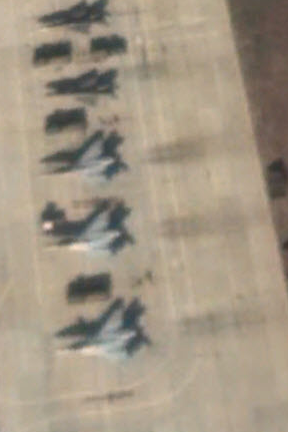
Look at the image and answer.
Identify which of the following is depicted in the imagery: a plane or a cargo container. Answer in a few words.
plane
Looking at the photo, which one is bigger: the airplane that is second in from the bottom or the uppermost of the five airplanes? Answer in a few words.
the airplane that is second in from the bottom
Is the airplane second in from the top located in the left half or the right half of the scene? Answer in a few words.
left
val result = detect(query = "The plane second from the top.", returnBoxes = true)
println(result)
[44,73,116,102]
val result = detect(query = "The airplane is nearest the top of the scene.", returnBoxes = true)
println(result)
[36,4,107,31]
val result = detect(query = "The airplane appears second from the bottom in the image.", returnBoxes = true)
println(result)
[43,213,136,258]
